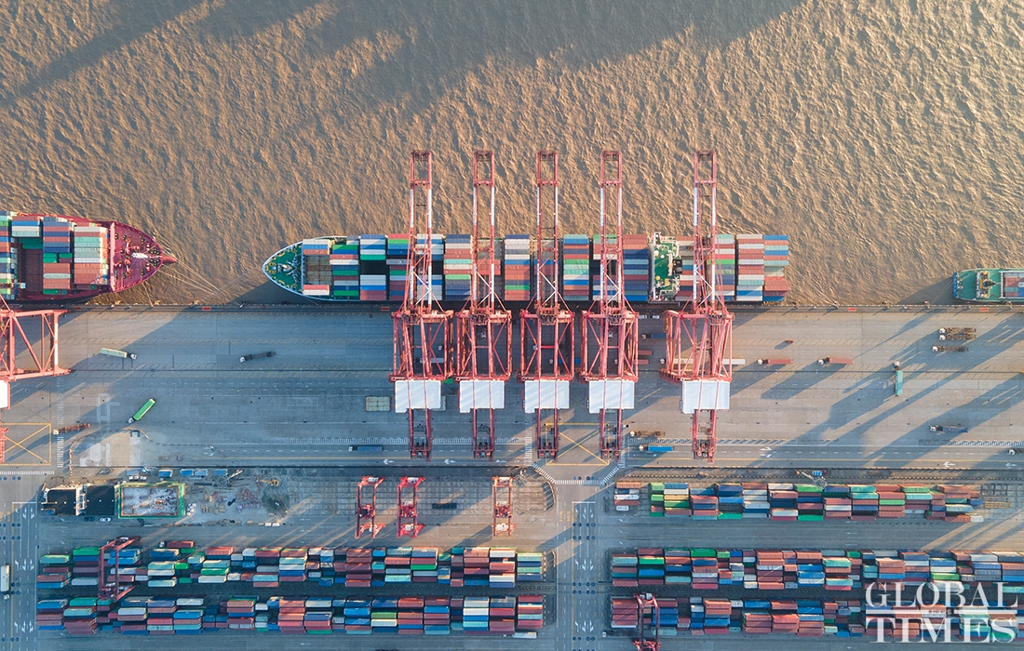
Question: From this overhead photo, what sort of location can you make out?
port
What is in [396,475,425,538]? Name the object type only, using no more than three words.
container crane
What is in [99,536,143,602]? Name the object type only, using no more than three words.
container crane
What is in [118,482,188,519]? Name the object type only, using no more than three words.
building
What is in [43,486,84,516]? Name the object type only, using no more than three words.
building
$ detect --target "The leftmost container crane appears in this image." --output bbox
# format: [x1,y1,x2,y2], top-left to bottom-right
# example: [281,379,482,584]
[0,289,74,459]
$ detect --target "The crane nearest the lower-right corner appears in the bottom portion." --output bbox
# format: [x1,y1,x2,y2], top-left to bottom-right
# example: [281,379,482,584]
[630,592,661,651]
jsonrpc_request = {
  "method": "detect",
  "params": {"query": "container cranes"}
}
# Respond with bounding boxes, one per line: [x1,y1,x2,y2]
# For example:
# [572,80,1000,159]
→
[630,592,661,651]
[491,475,516,538]
[396,475,425,538]
[454,150,515,459]
[99,536,143,602]
[657,150,734,459]
[390,150,458,459]
[515,150,576,459]
[572,150,640,459]
[355,475,386,538]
